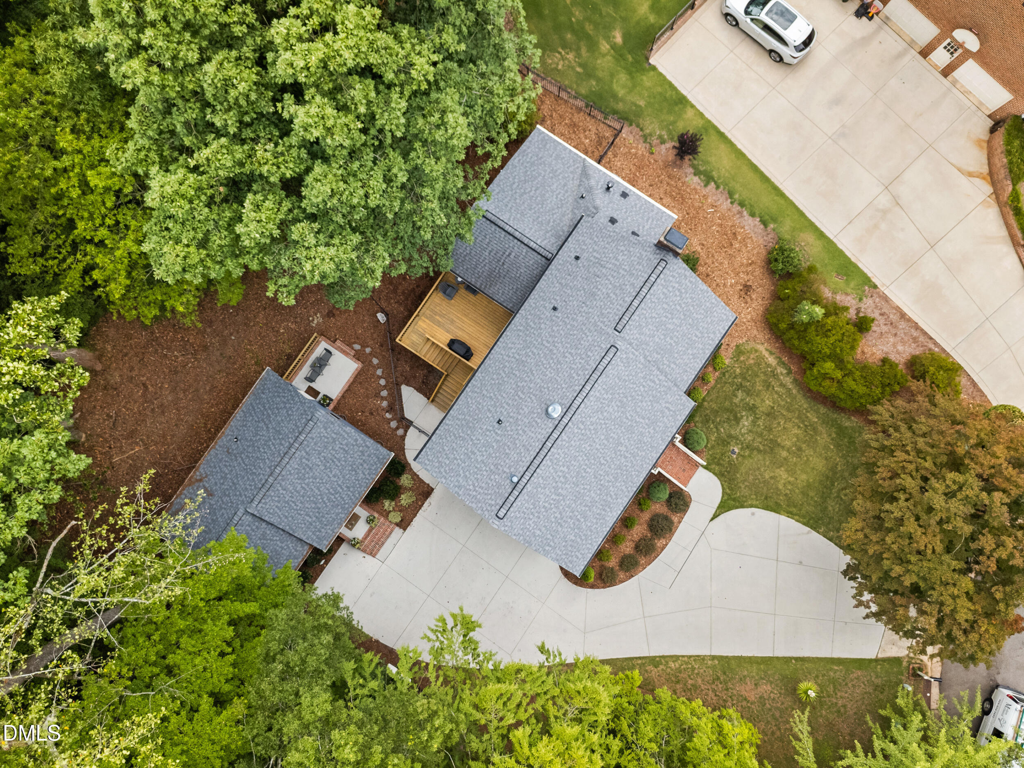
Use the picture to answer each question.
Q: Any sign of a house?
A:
Yes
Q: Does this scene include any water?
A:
No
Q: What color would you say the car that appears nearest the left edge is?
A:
white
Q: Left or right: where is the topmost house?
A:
right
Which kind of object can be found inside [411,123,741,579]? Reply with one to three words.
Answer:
house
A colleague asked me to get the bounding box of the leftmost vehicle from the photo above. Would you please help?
[718,0,818,65]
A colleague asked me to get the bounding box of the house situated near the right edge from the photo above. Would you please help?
[857,0,1024,122]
